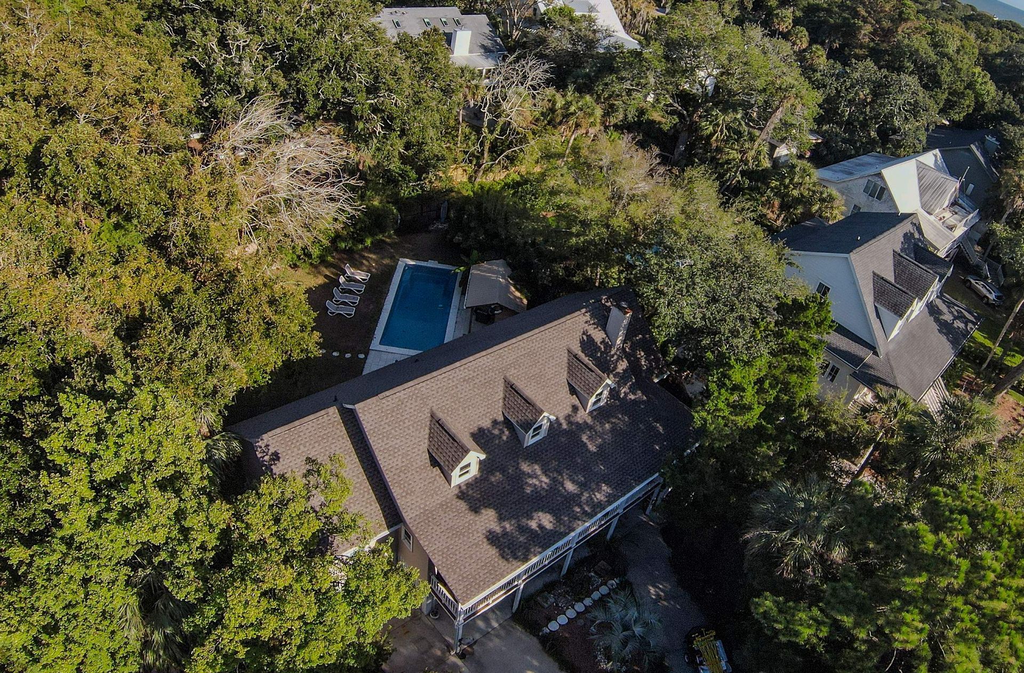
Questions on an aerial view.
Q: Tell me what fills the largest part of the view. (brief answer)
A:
trees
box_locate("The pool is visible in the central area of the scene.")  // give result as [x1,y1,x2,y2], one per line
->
[370,258,464,354]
